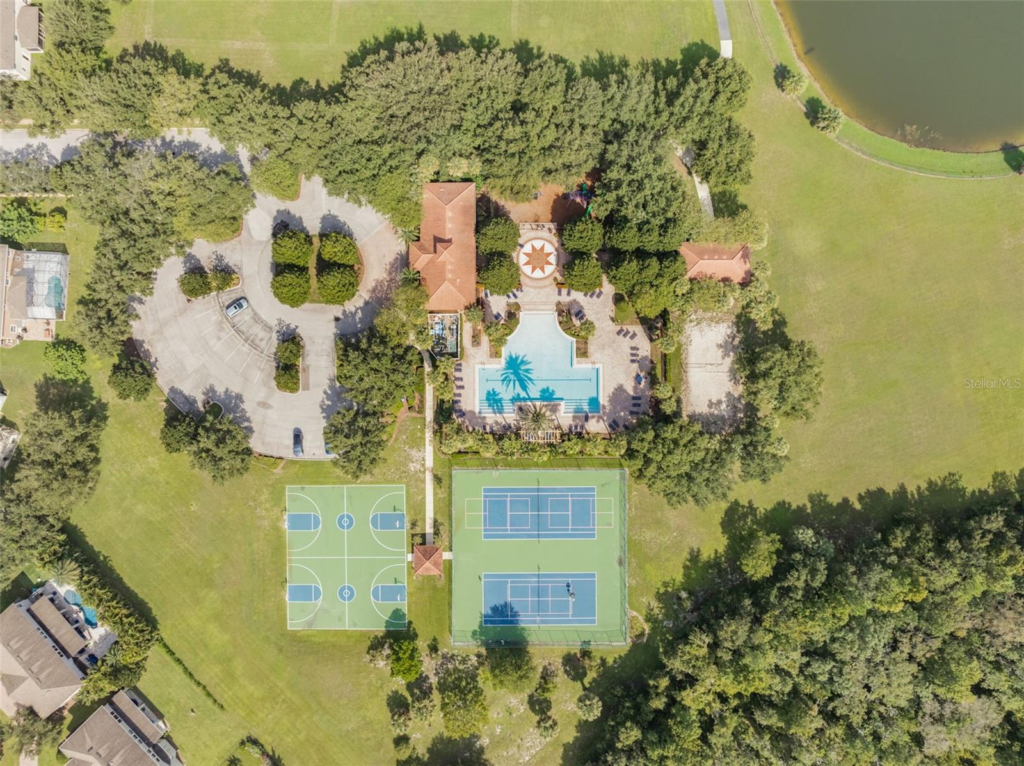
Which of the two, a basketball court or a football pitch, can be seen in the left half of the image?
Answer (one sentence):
It is a basketball court that can be seen in the left half of the image.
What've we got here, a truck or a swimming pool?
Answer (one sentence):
The one in the frame is a swimming pool.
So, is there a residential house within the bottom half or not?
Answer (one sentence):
Yes, a residential house can be seen within the bottom half.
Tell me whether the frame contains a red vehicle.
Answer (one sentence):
No, no red vehicle is visible in the view.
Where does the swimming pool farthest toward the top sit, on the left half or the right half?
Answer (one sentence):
It is on the left.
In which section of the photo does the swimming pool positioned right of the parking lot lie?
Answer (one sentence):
The swimming pool positioned right of the parking lot is located in the center region of the scene.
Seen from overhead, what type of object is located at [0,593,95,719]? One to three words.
house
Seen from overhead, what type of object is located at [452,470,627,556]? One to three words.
tennis court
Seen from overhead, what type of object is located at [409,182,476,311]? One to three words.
building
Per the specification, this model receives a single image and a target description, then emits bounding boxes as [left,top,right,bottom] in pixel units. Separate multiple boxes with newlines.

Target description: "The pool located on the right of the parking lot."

[477,311,602,416]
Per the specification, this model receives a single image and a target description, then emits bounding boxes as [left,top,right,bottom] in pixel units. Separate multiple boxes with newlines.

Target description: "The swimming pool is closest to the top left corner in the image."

[43,274,65,308]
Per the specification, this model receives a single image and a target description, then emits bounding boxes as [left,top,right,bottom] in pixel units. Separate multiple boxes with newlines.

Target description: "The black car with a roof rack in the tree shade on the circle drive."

[269,217,290,237]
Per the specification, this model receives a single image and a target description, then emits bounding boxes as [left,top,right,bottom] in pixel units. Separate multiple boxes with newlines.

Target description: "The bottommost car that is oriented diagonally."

[224,298,247,316]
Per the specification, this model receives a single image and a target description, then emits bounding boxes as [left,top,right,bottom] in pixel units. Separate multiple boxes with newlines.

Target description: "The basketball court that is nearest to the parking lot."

[287,485,406,558]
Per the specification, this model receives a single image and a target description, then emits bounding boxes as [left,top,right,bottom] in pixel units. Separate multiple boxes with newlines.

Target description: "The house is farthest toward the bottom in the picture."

[60,690,188,766]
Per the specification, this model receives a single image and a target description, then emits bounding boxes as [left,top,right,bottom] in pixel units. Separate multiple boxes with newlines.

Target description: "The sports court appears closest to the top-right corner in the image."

[681,310,745,429]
